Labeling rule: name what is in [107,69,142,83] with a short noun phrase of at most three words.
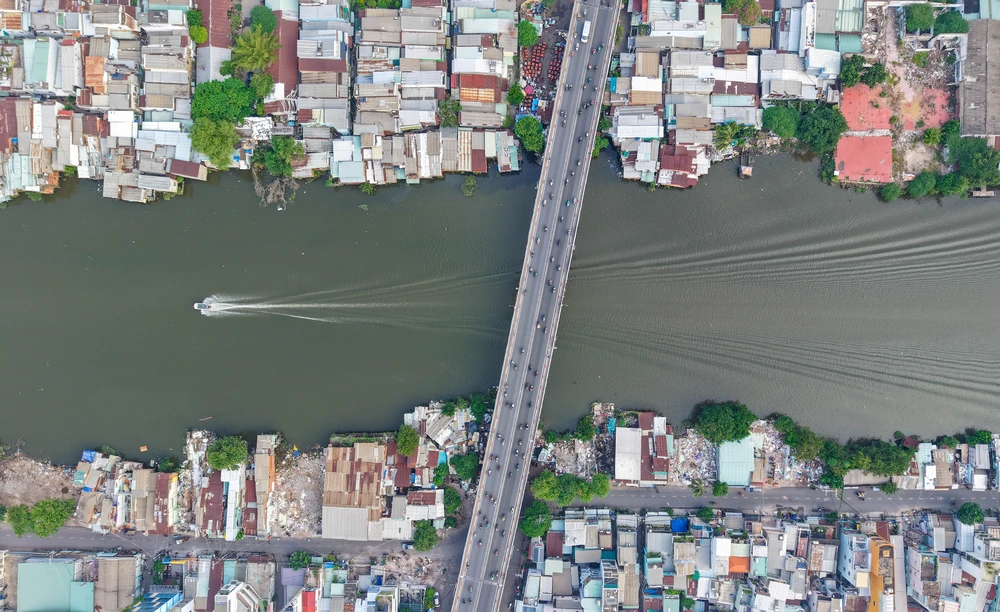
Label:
house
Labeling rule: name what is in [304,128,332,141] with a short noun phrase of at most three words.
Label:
house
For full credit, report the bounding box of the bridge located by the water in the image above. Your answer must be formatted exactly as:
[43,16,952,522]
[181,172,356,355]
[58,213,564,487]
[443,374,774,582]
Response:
[450,0,622,612]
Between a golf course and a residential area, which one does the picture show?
residential area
